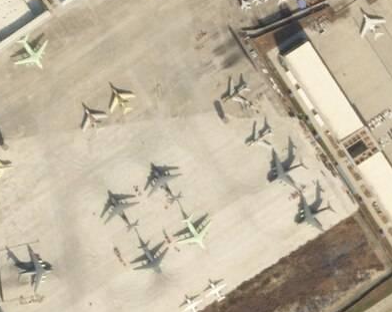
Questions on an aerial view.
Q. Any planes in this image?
Yes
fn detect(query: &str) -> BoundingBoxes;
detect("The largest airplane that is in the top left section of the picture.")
[14,36,49,69]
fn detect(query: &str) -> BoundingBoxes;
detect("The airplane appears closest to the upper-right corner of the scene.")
[361,12,386,39]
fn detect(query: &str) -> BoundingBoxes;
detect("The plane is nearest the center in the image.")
[147,168,182,201]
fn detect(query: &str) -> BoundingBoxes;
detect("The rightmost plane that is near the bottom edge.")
[205,282,226,299]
